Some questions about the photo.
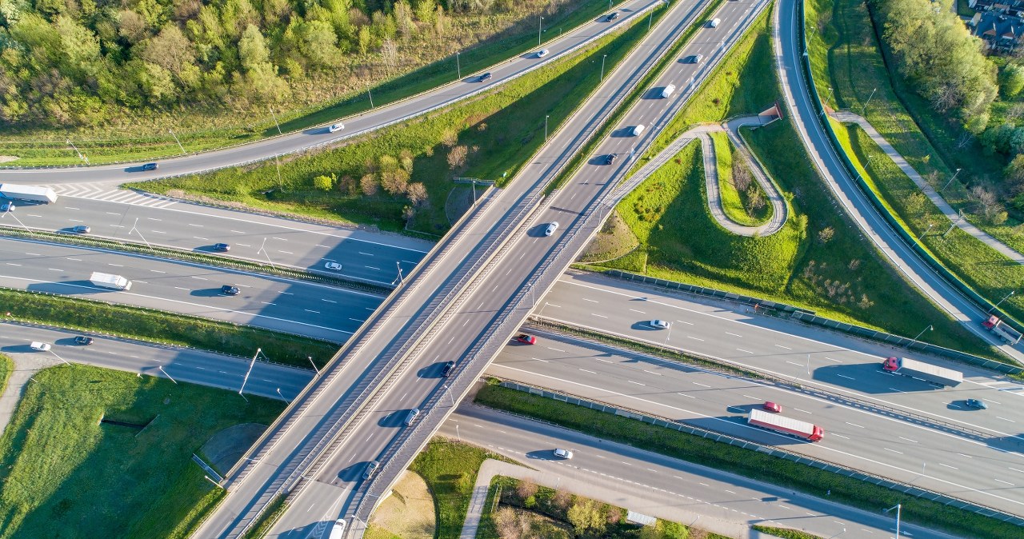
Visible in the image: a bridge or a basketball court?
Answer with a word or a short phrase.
bridge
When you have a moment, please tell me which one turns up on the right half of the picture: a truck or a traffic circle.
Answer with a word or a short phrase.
truck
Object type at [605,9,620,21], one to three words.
vehicle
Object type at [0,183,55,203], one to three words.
vehicle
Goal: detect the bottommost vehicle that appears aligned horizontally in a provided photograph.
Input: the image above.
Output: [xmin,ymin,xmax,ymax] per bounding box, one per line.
[553,448,574,460]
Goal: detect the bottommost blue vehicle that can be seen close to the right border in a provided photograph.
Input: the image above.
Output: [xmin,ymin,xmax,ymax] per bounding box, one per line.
[966,398,986,410]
